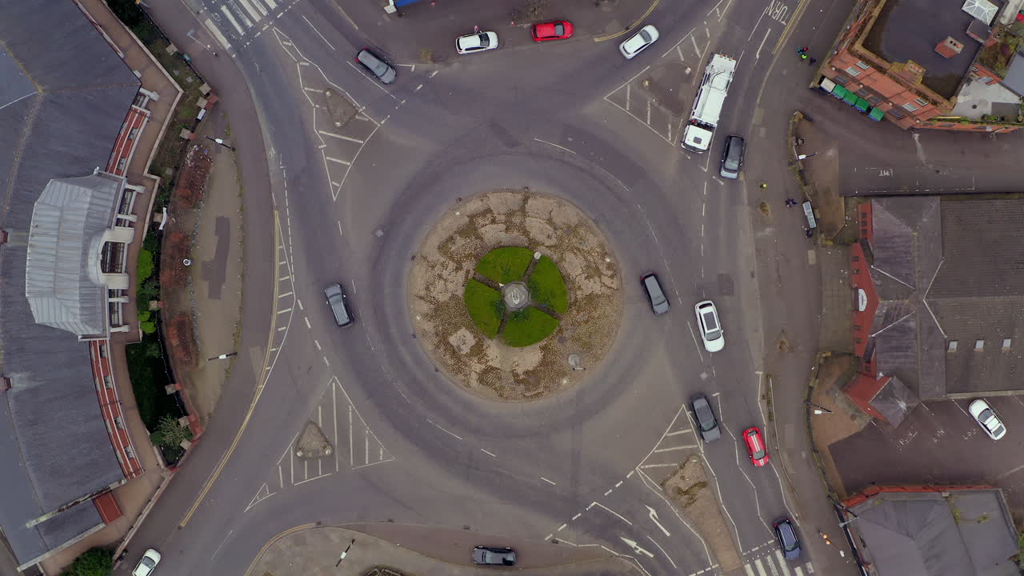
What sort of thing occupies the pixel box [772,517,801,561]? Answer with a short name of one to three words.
car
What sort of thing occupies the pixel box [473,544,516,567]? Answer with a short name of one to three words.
car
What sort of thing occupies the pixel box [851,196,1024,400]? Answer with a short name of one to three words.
building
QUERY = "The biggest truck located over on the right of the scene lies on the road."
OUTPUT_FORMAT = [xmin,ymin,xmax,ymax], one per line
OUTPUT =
[680,51,737,158]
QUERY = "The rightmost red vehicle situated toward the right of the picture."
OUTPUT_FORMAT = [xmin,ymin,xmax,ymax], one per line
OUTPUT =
[741,426,768,466]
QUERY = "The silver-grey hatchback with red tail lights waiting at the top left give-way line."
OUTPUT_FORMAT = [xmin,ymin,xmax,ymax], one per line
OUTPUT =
[355,48,397,86]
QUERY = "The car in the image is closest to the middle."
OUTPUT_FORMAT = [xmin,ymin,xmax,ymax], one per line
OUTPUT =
[640,272,668,315]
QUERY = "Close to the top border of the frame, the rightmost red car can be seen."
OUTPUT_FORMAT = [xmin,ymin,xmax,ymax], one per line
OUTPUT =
[531,20,573,43]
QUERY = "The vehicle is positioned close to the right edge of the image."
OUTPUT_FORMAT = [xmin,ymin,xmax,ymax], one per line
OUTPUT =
[967,398,1008,442]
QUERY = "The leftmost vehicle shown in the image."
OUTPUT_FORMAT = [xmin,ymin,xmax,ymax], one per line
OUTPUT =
[129,548,163,576]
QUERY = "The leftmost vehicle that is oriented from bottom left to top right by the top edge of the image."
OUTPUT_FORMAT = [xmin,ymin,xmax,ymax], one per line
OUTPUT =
[619,25,660,61]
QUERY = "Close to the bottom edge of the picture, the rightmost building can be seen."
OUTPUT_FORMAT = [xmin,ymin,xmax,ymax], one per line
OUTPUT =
[837,481,1024,576]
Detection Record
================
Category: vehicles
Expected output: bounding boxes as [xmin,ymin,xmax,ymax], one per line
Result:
[967,398,1008,442]
[640,272,668,315]
[741,426,768,466]
[473,544,516,567]
[455,30,500,56]
[355,48,397,86]
[680,51,737,158]
[129,548,163,576]
[694,300,724,351]
[690,394,720,442]
[325,283,352,328]
[531,20,573,43]
[619,25,660,61]
[772,517,801,561]
[719,134,743,180]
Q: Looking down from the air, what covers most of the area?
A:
paved ground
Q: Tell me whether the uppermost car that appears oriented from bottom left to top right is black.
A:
No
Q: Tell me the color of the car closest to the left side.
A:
white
